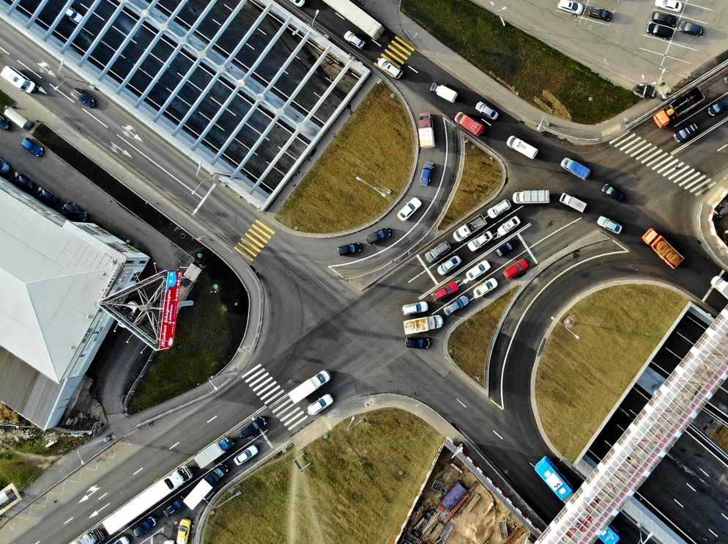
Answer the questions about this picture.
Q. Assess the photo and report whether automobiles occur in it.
Yes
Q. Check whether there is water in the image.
No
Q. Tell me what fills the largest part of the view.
paved ground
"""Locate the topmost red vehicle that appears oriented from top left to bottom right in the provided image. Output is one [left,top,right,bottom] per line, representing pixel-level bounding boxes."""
[453,113,486,139]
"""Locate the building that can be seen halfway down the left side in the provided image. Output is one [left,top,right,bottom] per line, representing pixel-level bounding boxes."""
[0,175,150,432]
